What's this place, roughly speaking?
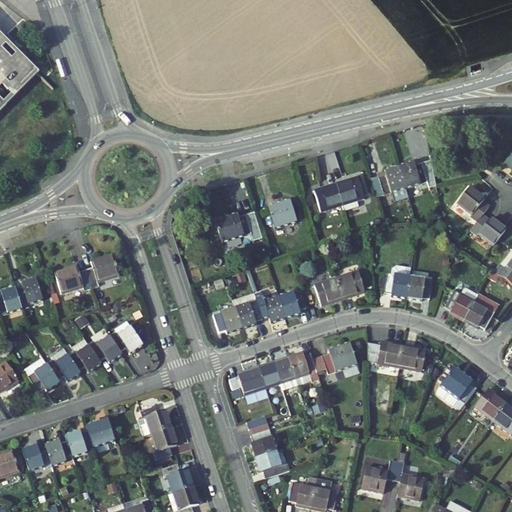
residential area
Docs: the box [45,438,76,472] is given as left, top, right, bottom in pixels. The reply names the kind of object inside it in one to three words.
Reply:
house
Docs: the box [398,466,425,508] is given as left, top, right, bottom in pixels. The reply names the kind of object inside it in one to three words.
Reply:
house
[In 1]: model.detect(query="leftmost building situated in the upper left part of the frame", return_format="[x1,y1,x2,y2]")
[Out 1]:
[0,30,38,109]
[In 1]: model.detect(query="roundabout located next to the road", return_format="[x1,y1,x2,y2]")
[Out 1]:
[90,140,165,214]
